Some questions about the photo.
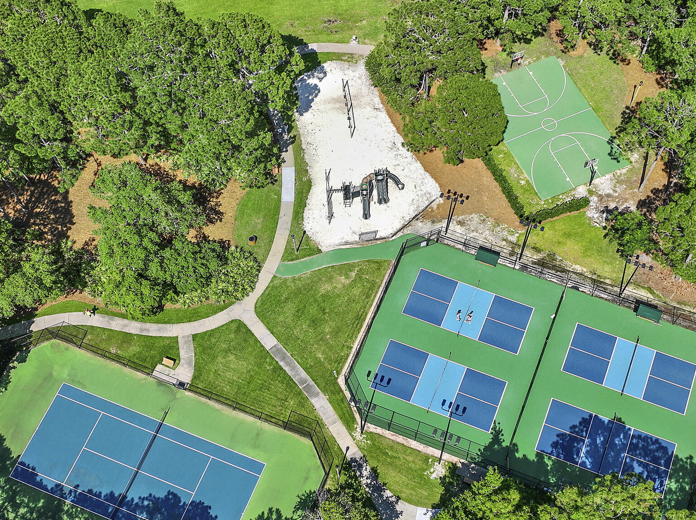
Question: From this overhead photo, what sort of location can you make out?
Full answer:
The picture captures a sports ground.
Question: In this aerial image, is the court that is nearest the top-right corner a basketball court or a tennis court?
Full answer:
Specifically, the court that is nearest the top-right corner is a basketball court.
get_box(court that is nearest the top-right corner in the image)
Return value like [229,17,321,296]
[471,55,628,201]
